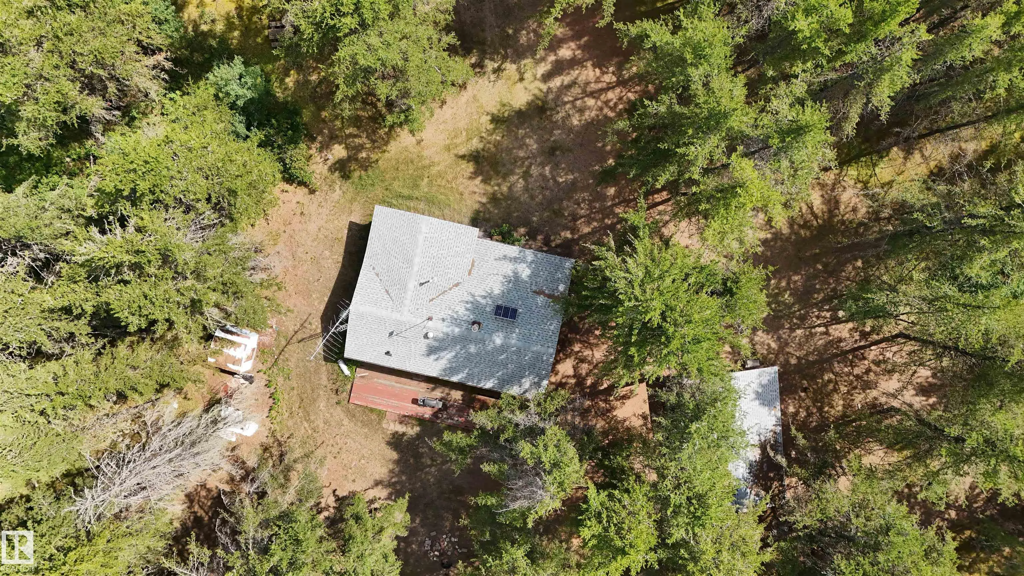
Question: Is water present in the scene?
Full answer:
No, no water is visible.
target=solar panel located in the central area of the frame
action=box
[494,303,517,321]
